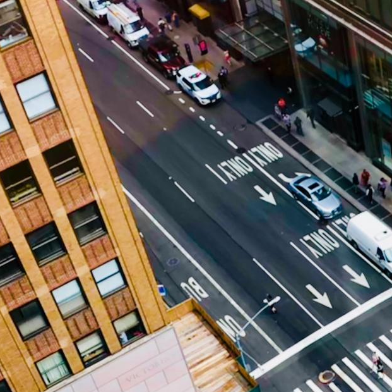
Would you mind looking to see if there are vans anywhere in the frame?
Yes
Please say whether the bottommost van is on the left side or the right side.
right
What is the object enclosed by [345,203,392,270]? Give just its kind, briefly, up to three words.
van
